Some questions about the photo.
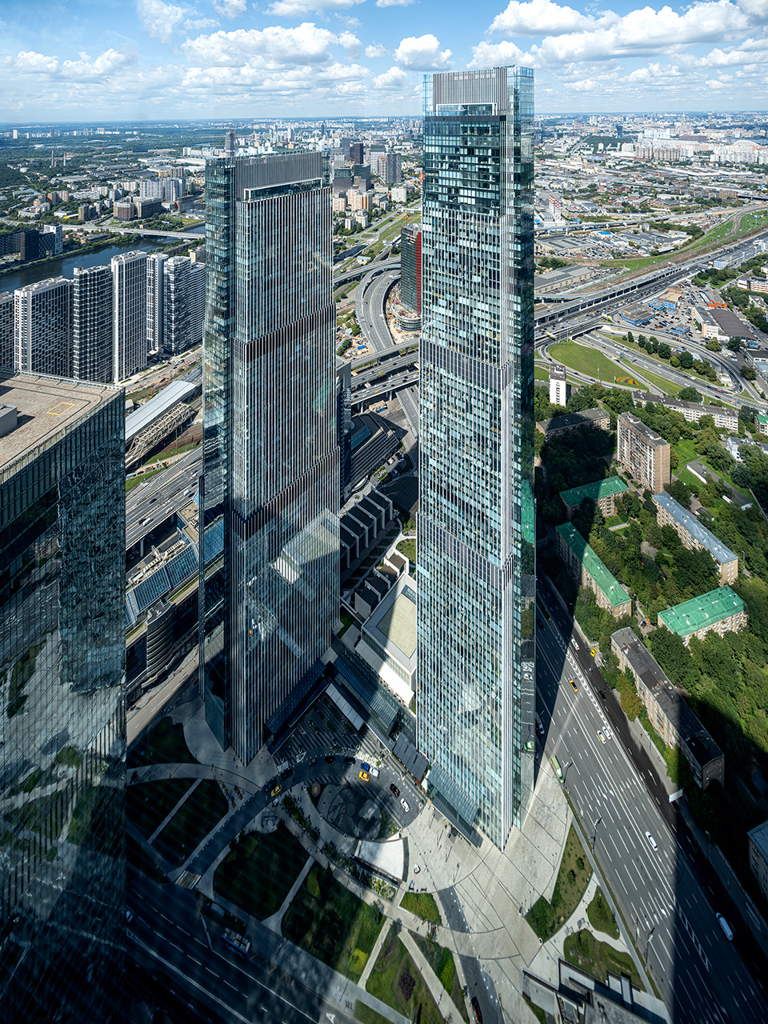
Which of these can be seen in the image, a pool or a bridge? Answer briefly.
bridge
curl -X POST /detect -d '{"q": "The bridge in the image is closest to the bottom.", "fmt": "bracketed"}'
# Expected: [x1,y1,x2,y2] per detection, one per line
[124,401,209,473]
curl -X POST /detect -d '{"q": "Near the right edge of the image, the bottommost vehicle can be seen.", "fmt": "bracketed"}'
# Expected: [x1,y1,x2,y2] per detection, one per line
[715,910,732,938]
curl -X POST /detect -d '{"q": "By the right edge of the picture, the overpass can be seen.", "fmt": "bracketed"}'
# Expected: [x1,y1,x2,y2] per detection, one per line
[535,203,768,259]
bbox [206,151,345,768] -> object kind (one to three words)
building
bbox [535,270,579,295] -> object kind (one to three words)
building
